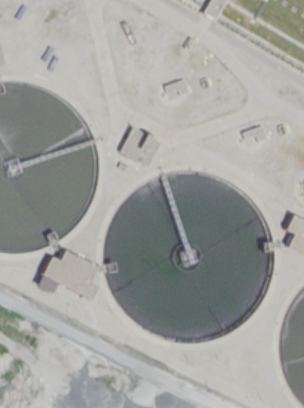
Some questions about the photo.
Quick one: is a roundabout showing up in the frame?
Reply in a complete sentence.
No, I find no roundabout anywhere in the image.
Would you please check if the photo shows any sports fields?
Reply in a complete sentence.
No, no sports field is visible in the view.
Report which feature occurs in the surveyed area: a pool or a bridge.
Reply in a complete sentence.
The one in the frame is a bridge.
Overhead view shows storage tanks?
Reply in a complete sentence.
Yes, I can see a storage tank in this picture.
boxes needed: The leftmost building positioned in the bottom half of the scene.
[37,249,100,300]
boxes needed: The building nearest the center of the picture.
[118,126,161,165]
